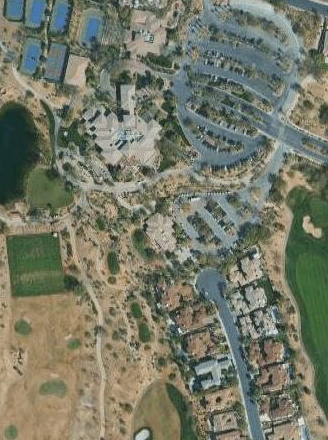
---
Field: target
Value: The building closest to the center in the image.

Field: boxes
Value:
[145,212,180,254]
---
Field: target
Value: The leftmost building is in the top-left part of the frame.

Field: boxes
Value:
[62,54,90,86]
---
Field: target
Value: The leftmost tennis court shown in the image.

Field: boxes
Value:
[4,0,25,21]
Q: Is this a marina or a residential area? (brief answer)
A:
residential area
